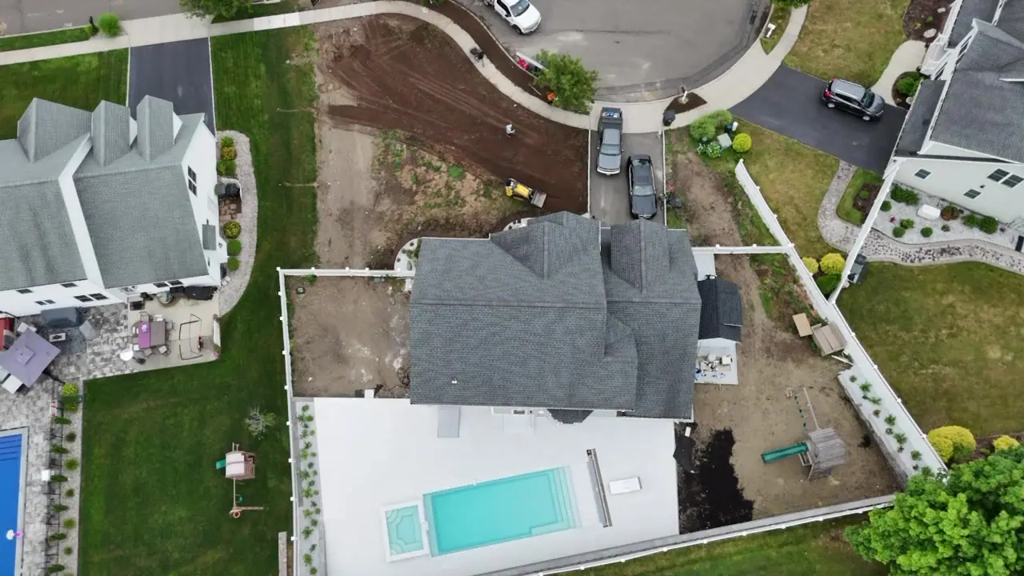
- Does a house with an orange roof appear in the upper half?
No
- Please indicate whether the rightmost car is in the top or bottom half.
top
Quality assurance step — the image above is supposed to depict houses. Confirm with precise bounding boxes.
[0,92,227,317]
[890,0,1024,255]
[409,211,702,422]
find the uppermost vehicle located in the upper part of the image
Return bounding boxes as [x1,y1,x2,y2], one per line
[496,0,543,35]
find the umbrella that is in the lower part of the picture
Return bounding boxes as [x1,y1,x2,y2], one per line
[0,329,64,387]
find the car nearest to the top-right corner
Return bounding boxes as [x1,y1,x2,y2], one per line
[823,80,882,121]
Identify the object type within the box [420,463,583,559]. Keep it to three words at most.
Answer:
swimming pool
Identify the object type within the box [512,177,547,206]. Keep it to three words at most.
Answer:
work vehicle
